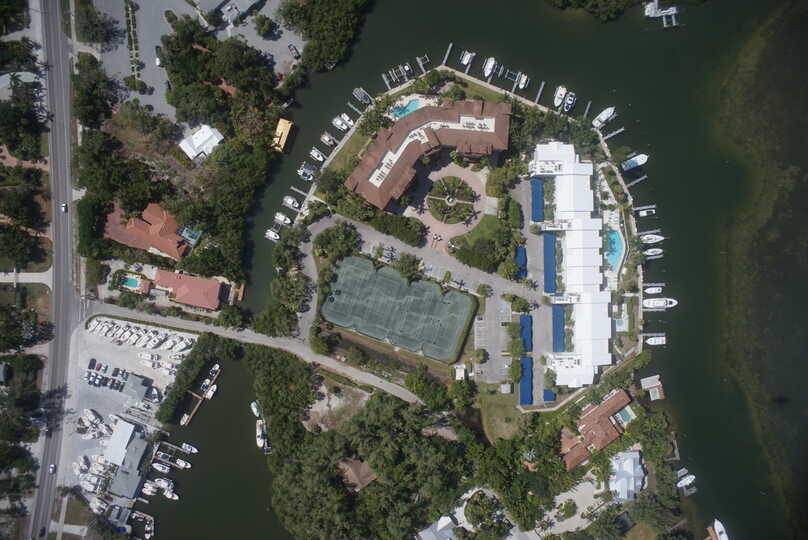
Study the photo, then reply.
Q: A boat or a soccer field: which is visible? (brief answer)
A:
boat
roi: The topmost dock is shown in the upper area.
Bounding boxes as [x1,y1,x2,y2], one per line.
[645,0,678,28]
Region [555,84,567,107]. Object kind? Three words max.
boat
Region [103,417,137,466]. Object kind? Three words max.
shed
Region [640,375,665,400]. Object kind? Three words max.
pier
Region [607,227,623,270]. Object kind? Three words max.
swimming pool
